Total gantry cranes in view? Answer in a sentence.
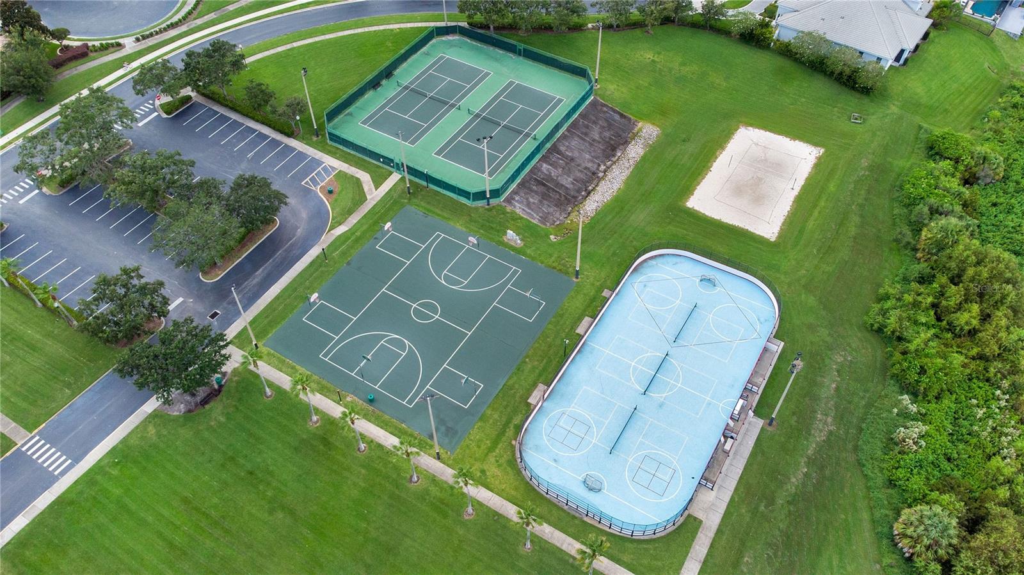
Not a single gantry crane can be seen.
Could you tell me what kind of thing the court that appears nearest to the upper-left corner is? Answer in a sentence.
The court that appears nearest to the upper-left corner can be classified as a tennis court.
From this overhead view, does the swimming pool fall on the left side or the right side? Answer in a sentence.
The swimming pool is on the right side of the image.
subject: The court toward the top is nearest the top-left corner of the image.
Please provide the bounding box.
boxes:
[360,53,491,146]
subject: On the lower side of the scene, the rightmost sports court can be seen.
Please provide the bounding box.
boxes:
[518,240,786,533]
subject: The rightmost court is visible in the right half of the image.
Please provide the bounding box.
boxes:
[682,123,828,242]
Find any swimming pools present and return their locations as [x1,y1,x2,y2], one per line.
[967,0,1012,20]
